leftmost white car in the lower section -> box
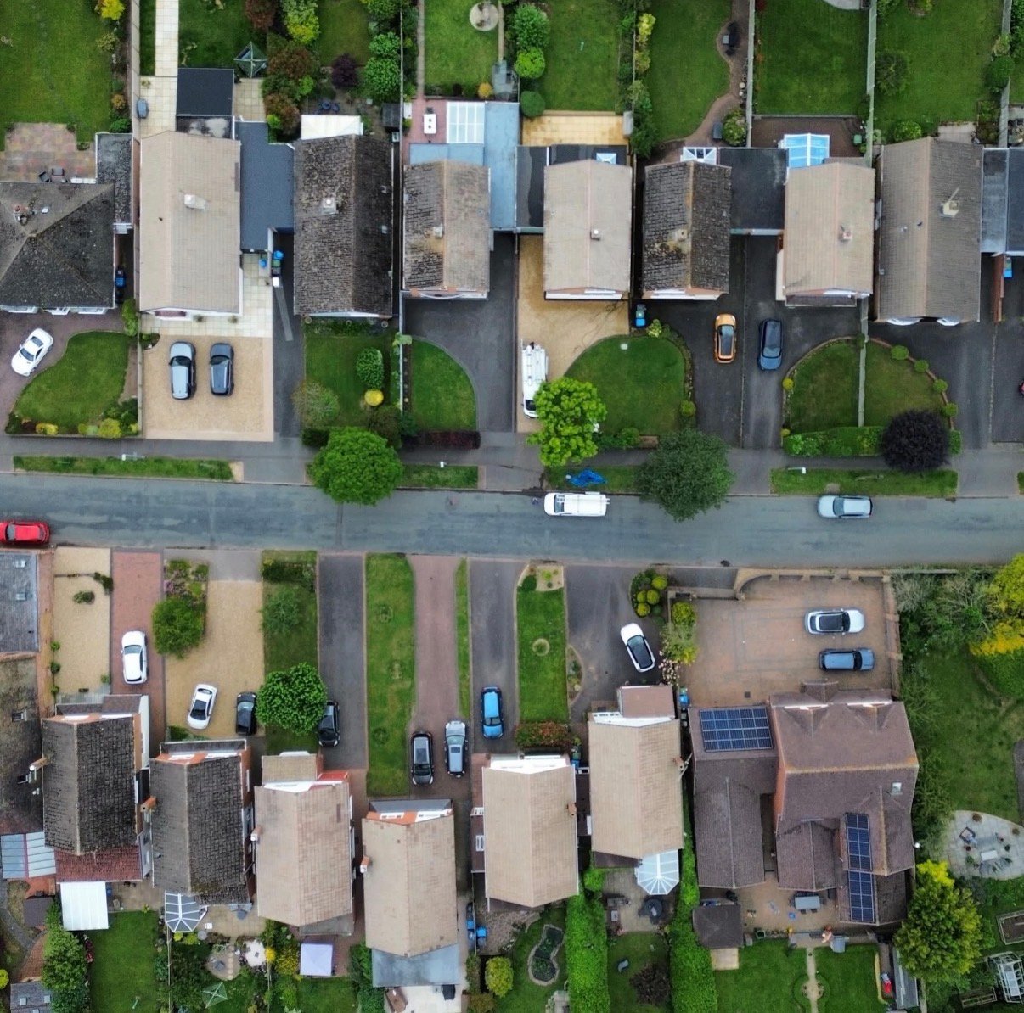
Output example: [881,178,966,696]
[119,629,149,684]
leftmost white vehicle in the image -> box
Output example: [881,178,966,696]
[11,327,57,378]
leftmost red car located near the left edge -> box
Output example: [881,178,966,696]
[0,520,52,547]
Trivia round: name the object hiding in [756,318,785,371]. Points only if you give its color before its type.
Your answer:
blue car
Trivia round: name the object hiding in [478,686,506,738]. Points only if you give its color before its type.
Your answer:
blue car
